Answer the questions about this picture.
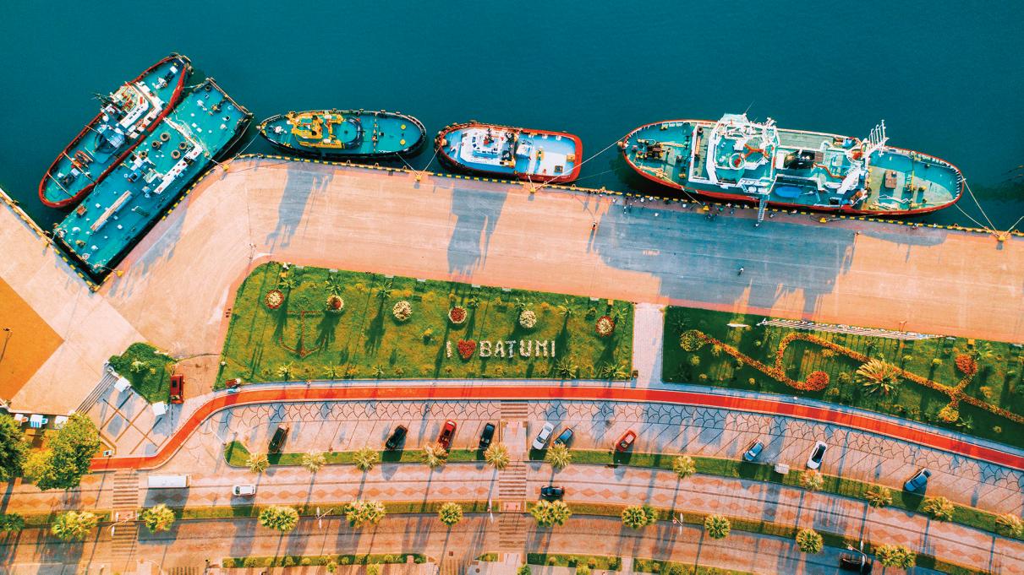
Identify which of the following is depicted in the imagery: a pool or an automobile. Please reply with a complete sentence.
It is an automobile that can be seen here.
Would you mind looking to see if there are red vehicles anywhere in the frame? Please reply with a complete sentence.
Yes, a red vehicle can be made out from above.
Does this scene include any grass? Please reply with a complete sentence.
Yes, grass can be seen from above here.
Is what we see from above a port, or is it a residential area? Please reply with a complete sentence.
This image shows a port.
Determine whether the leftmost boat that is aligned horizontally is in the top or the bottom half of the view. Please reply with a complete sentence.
The leftmost boat that is aligned horizontally is in the top half of the image.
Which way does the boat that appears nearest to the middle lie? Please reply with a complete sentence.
What the image shows is the boat that appears nearest to the middle lying from side to side.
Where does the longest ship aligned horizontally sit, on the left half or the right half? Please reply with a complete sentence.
The longest ship aligned horizontally is on the right side of the image.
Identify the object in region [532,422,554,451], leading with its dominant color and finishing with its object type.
white car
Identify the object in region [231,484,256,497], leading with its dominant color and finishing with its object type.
white vehicle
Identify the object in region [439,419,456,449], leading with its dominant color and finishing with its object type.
red car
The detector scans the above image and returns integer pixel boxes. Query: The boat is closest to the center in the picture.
[435,121,583,184]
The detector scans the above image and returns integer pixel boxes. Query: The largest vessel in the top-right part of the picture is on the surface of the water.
[615,90,965,214]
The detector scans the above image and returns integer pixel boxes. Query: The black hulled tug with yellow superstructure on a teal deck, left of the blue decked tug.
[257,108,427,161]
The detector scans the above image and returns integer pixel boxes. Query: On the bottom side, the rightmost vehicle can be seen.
[902,469,931,493]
